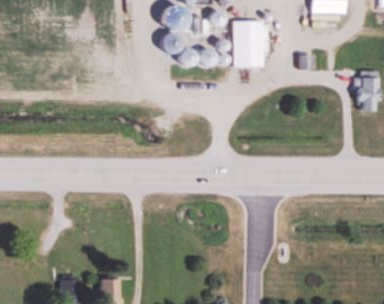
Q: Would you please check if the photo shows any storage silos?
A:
Yes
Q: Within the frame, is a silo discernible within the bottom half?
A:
No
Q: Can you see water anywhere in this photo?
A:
No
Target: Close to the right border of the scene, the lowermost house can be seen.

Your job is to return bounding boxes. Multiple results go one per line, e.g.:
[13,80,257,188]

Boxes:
[352,72,384,112]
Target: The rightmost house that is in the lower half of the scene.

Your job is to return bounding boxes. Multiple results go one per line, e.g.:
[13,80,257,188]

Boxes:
[101,279,124,304]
